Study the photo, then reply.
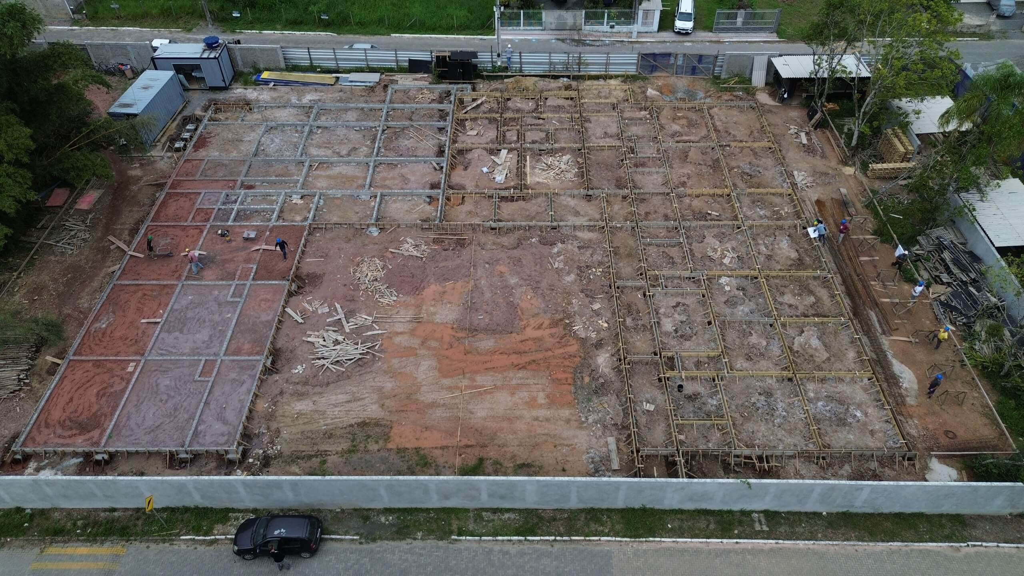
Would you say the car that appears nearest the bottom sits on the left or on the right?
left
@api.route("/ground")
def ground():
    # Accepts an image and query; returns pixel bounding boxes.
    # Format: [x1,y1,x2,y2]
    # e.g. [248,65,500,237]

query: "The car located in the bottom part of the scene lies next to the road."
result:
[231,512,324,561]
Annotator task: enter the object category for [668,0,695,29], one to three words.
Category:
car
